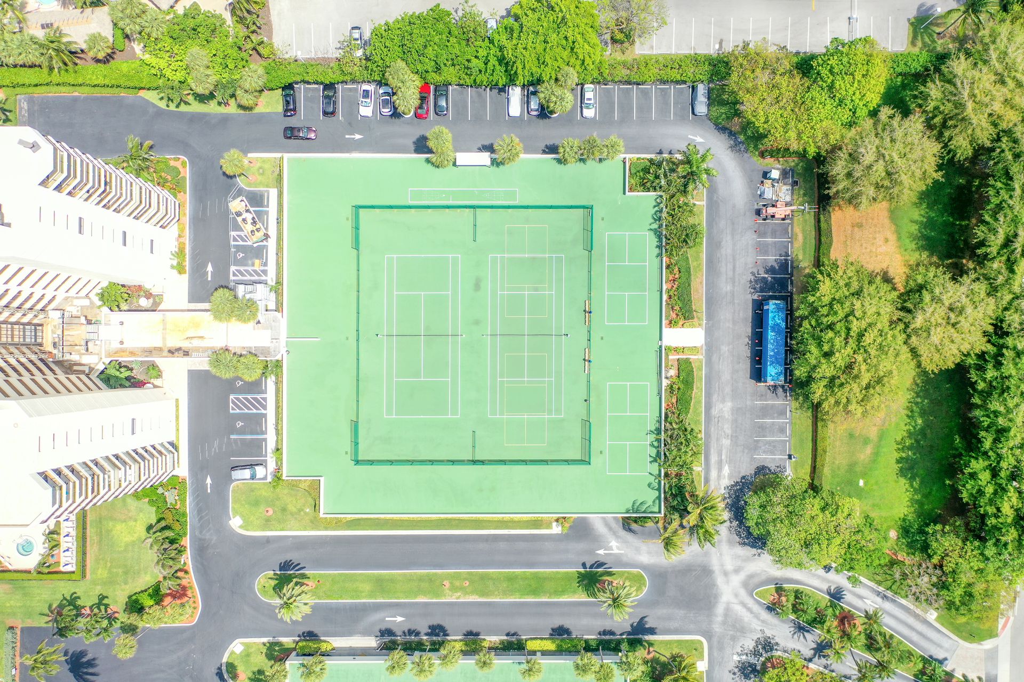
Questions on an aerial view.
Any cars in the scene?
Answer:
Yes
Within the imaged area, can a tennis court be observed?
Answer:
Yes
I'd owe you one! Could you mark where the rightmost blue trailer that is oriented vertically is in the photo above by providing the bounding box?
[761,300,787,383]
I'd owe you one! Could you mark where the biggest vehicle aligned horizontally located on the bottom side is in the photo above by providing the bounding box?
[231,464,266,480]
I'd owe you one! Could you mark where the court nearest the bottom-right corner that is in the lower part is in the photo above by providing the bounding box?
[607,383,649,474]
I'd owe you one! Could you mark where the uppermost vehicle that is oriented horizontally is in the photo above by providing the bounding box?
[283,124,317,140]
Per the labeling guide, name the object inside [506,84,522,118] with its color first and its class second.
white car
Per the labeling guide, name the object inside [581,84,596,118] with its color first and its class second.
white car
